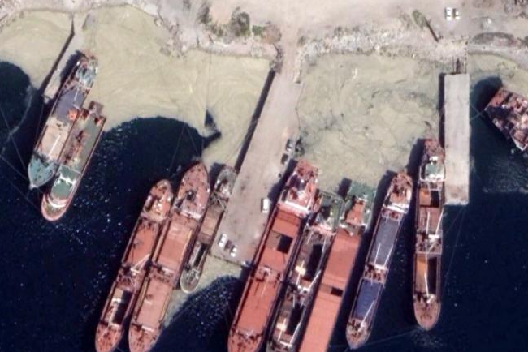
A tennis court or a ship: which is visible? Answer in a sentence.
Of the two, only a ship appears.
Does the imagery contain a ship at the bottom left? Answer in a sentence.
Yes, looking at the bottom left, one can make out a ship.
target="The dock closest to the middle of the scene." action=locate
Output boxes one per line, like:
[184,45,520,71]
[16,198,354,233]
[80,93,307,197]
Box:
[216,42,304,268]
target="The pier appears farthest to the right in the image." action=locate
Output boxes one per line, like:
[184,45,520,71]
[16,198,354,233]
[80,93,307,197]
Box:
[444,74,469,206]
